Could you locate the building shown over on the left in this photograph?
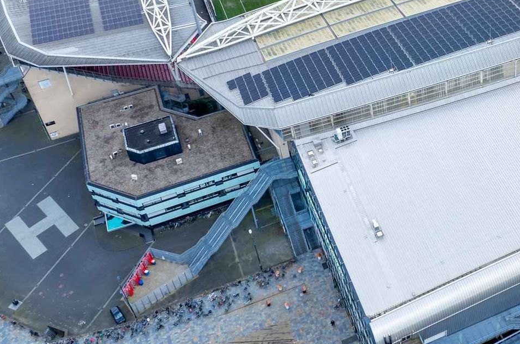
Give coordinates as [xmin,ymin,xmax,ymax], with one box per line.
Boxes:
[77,85,261,228]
